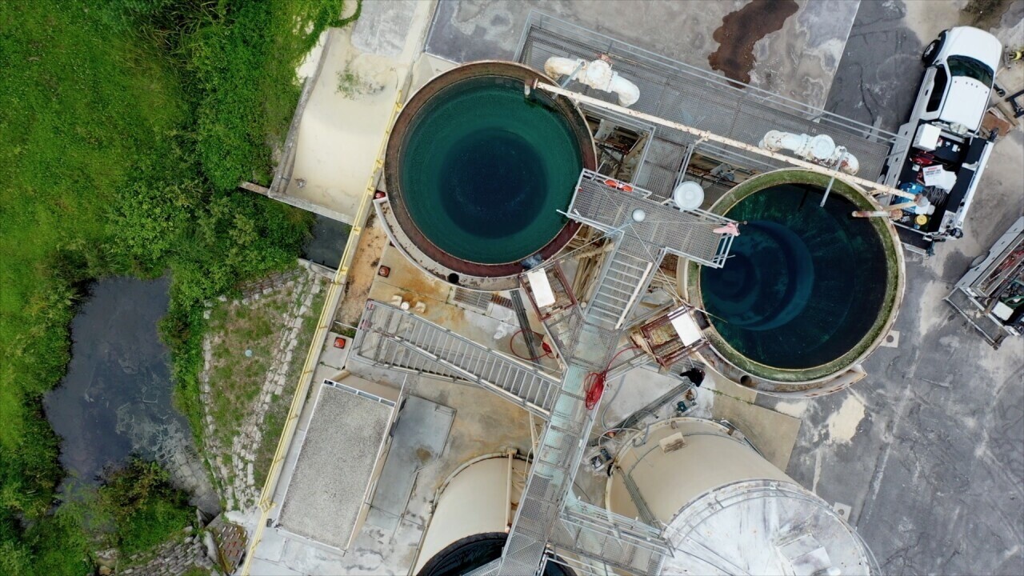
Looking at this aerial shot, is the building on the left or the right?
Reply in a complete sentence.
You can find the building on the left side of the picture.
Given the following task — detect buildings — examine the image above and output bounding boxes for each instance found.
[275,377,413,559]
